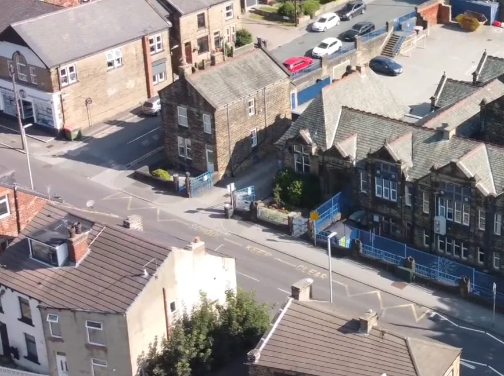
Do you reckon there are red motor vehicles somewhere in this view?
Yes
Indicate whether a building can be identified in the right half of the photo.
Yes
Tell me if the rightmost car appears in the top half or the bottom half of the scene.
top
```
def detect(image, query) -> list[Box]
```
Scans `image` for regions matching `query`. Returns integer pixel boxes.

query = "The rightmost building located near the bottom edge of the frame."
[246,247,466,376]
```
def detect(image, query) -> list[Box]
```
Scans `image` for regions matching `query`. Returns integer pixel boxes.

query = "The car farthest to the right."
[376,53,405,73]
